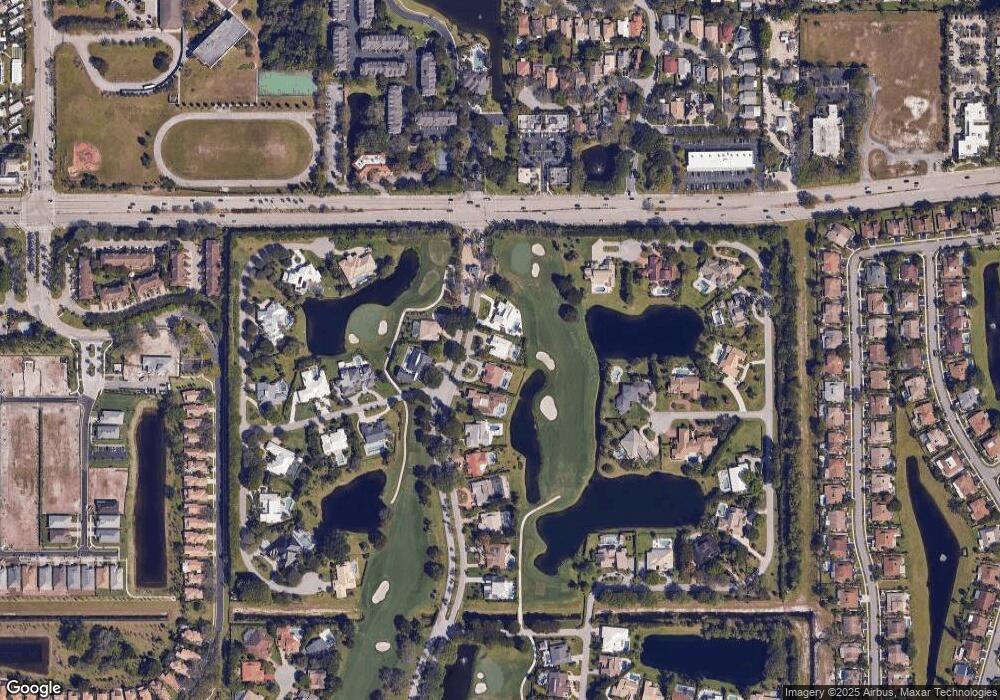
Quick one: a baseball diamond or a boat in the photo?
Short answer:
baseball diamond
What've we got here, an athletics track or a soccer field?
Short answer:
athletics track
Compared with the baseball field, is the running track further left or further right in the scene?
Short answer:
to its right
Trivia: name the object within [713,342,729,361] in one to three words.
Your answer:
swimming pool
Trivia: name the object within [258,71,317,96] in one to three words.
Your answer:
sports court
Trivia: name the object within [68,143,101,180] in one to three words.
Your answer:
baseball field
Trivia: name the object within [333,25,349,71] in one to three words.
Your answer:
building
